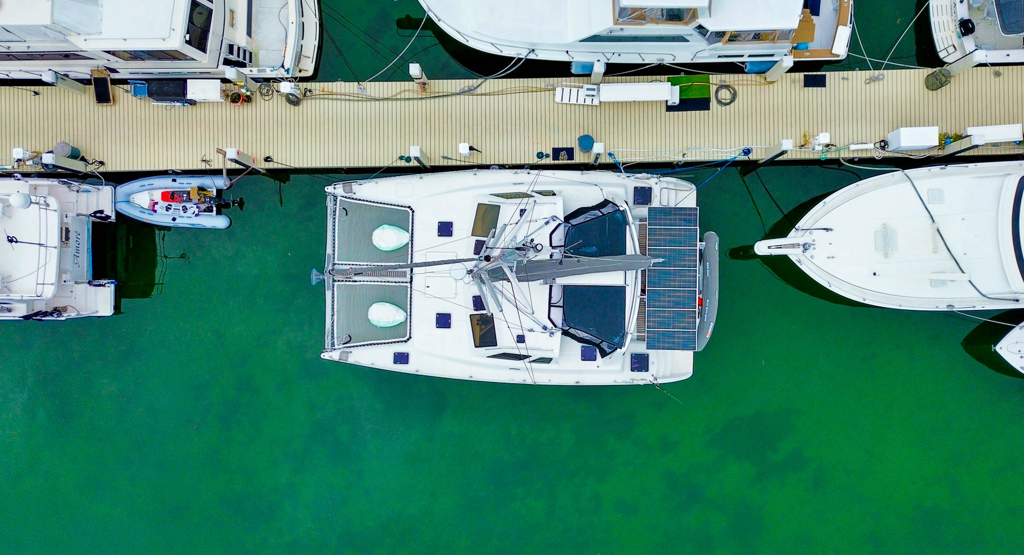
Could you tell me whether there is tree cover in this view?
No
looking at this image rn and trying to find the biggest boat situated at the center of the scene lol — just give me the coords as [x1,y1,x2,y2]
[310,168,703,392]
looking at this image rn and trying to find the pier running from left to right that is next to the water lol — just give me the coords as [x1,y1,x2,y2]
[0,66,1024,174]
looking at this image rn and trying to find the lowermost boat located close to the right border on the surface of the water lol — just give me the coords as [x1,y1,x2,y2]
[992,322,1024,377]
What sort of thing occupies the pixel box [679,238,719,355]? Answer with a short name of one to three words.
boat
